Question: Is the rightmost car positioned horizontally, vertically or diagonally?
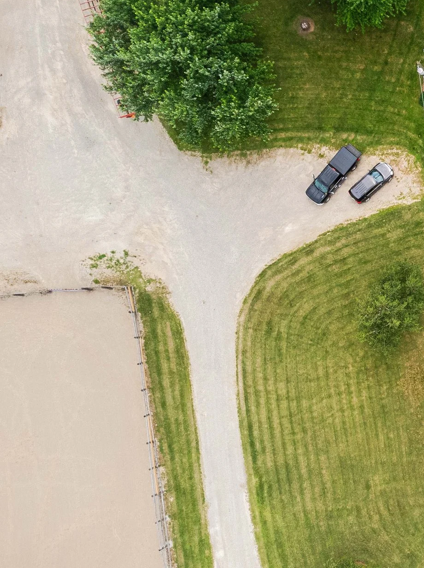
diagonally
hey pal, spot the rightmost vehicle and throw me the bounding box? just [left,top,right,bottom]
[348,161,395,205]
